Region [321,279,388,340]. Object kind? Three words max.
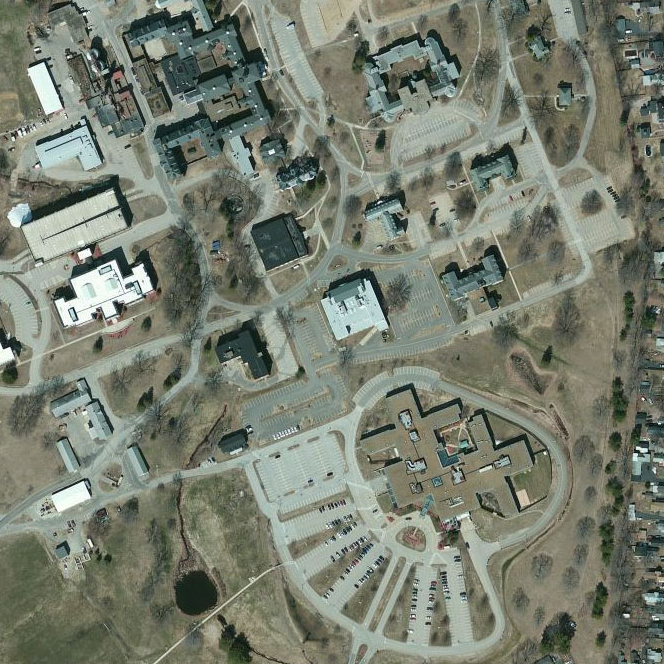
building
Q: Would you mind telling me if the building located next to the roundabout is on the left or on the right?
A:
right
